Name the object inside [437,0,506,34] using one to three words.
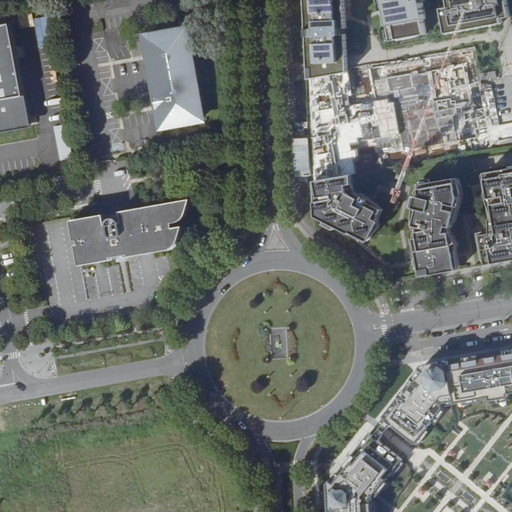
building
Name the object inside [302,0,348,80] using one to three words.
building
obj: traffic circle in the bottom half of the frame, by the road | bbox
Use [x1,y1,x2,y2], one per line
[185,250,376,441]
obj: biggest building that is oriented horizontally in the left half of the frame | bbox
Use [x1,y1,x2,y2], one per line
[67,199,187,266]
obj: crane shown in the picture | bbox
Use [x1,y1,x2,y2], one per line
[395,0,470,196]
